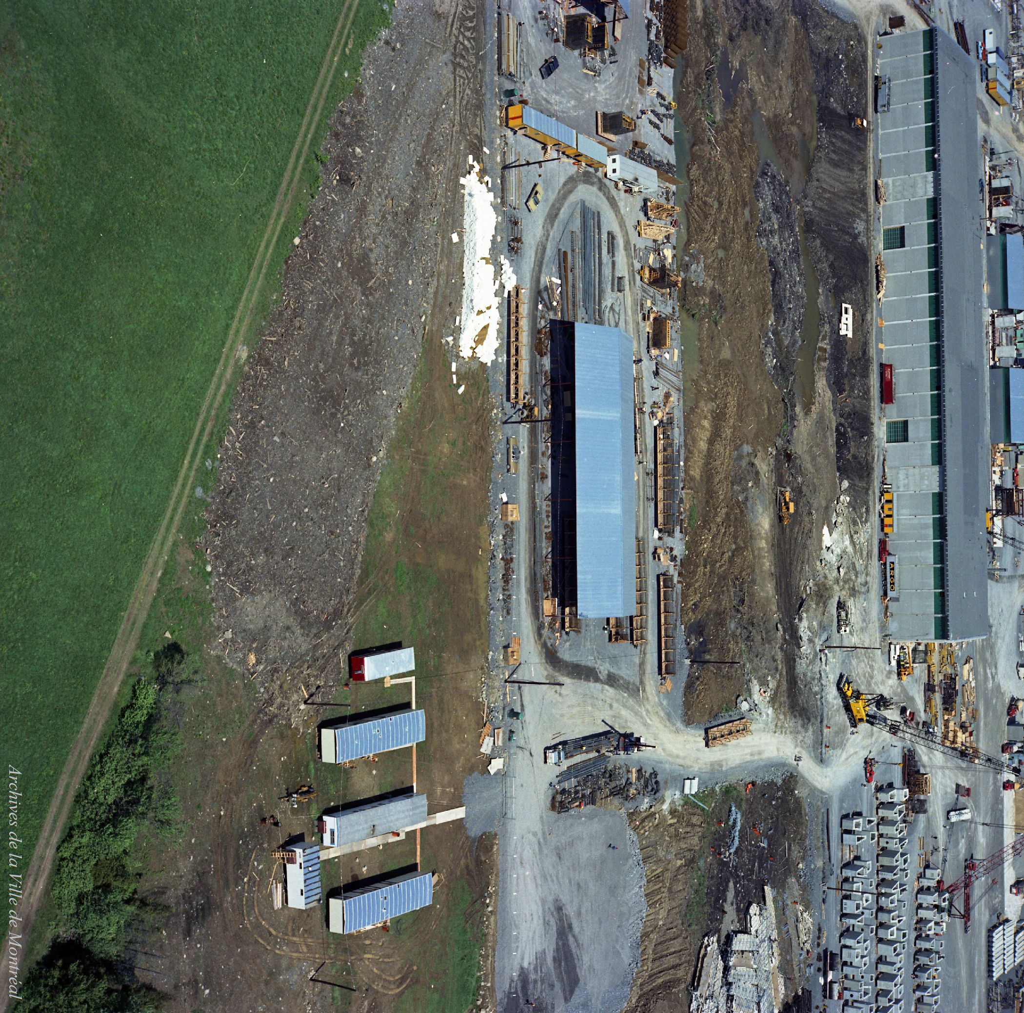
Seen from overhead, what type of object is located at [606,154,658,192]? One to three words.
trailer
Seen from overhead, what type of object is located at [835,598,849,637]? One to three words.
vehicle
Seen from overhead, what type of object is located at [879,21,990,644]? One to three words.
building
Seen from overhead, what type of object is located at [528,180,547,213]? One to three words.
car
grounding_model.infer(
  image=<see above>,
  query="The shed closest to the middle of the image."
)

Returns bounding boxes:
[543,319,638,621]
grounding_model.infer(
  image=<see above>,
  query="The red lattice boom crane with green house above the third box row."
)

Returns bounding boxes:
[947,831,1024,922]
